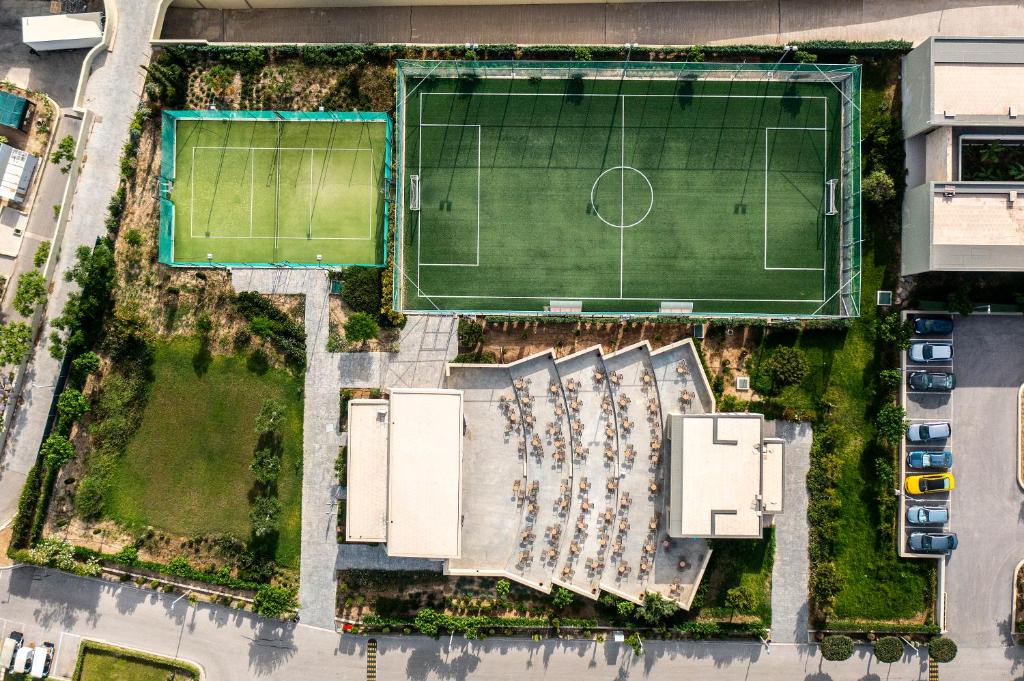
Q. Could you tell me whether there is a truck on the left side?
Yes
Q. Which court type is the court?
tennis court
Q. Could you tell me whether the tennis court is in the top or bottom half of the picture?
top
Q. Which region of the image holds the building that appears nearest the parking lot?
top right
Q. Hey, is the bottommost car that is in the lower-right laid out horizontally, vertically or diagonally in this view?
horizontally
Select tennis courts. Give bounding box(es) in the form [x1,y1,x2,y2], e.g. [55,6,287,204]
[172,121,388,268]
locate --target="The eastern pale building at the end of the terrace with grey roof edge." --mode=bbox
[660,412,785,539]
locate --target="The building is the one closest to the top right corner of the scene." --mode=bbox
[901,37,1024,279]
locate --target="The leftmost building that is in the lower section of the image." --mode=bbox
[346,388,469,559]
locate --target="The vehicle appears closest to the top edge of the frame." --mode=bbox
[23,12,116,55]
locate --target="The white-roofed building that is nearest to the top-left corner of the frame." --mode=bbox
[0,139,41,207]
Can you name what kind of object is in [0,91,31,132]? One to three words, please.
shed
